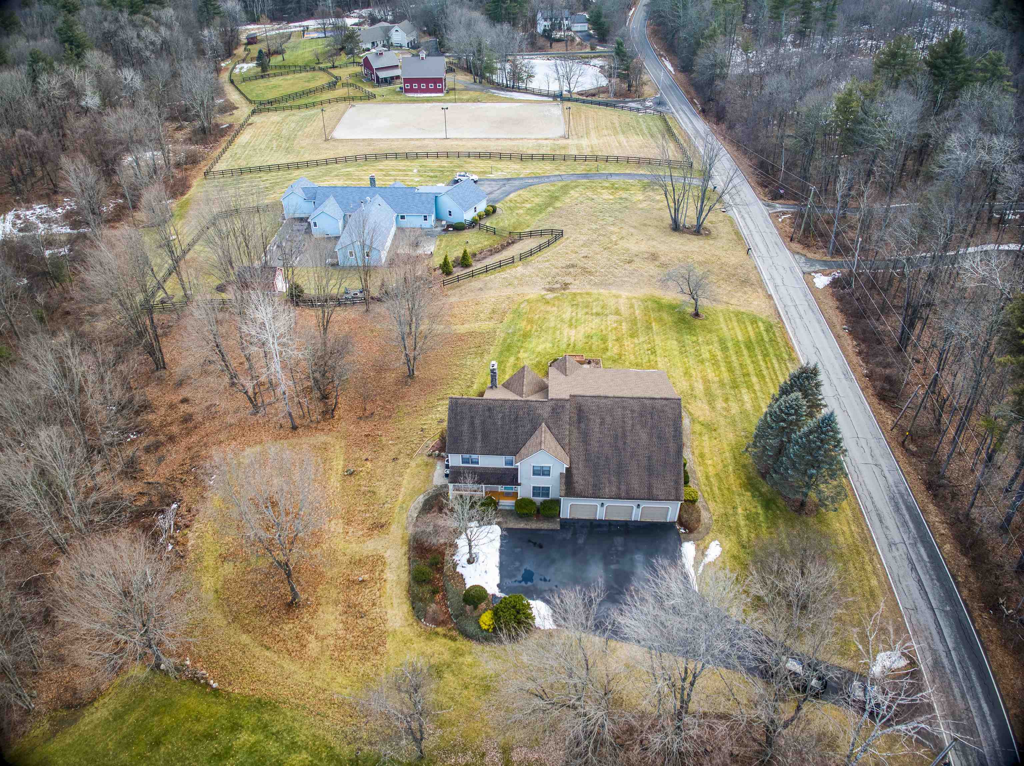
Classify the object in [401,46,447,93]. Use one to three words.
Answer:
barn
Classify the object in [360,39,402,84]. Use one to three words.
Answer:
barn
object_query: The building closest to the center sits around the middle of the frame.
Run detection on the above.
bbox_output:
[445,354,685,522]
